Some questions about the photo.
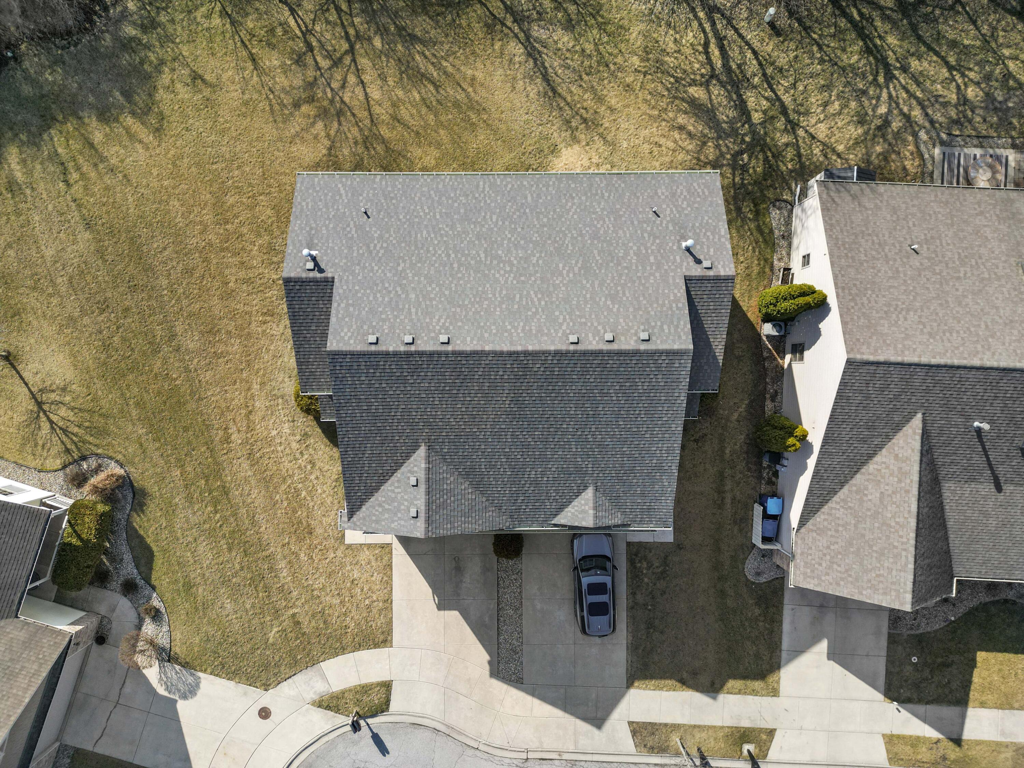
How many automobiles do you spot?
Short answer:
1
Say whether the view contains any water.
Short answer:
No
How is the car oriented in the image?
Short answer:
up and down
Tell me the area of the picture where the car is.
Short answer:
bottom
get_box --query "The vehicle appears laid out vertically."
[568,534,621,639]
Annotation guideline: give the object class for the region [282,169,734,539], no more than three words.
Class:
house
